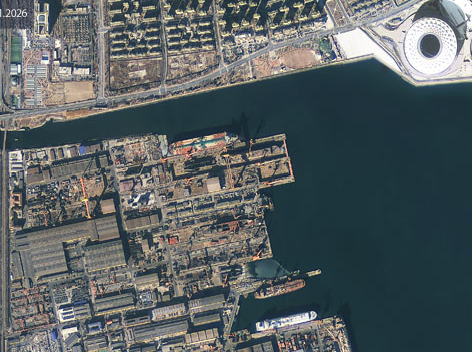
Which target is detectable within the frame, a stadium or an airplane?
stadium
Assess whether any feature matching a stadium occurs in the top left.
No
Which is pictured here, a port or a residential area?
port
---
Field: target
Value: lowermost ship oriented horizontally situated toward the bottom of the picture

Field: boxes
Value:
[255,310,318,331]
